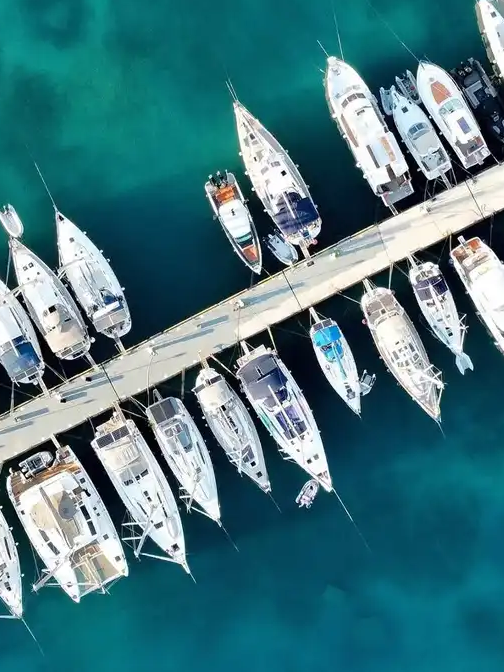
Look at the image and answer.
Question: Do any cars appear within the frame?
No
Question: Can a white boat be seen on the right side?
Yes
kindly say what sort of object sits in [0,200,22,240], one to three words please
boat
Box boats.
[227,83,332,261]
[2,235,99,379]
[452,350,474,379]
[0,200,22,240]
[445,218,504,349]
[19,451,53,472]
[3,428,127,601]
[293,480,319,508]
[391,87,457,200]
[387,22,499,178]
[318,21,420,222]
[299,307,362,418]
[394,69,421,104]
[262,228,297,271]
[88,400,192,574]
[339,272,445,430]
[213,328,369,549]
[0,510,42,653]
[360,372,376,394]
[204,168,271,293]
[38,170,155,361]
[449,52,504,149]
[129,368,237,550]
[0,279,66,409]
[183,351,279,508]
[395,244,473,354]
